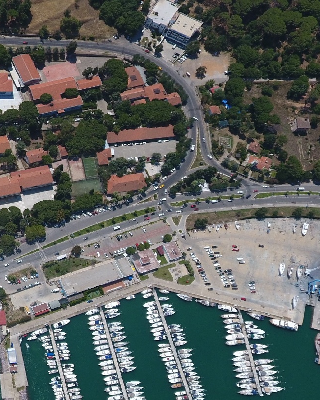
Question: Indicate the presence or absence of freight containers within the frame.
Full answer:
No, the frame has no freight container in it.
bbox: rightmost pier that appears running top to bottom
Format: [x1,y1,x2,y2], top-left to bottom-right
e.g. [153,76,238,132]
[237,310,263,396]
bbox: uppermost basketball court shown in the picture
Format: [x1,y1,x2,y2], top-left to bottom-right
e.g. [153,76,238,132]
[43,62,80,80]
